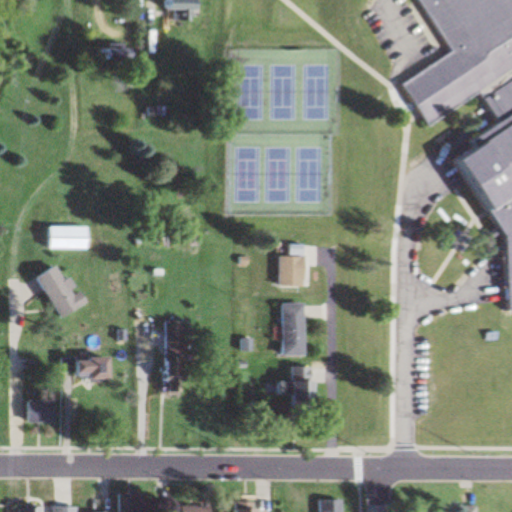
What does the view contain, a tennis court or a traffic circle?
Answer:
tennis court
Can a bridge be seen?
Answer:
No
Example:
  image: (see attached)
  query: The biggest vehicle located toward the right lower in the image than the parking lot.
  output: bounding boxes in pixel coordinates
[435,142,452,166]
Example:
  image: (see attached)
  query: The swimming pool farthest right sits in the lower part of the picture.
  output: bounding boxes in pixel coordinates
[86,334,100,350]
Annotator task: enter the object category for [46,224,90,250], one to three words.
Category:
shed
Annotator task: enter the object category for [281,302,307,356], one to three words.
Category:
house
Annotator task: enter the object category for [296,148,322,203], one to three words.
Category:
tennis court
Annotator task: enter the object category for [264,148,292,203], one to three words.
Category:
tennis court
